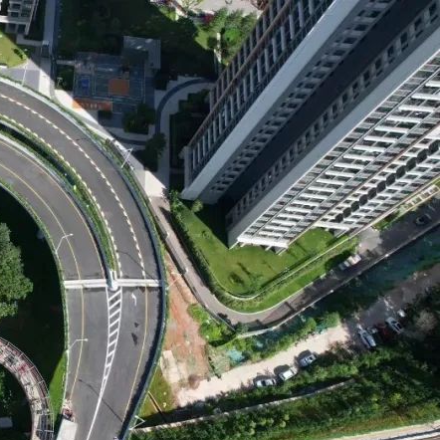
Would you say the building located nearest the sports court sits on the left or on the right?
left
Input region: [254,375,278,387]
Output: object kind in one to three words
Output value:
vehicle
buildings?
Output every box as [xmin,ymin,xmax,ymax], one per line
[0,0,39,27]
[187,0,440,252]
[126,27,165,63]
